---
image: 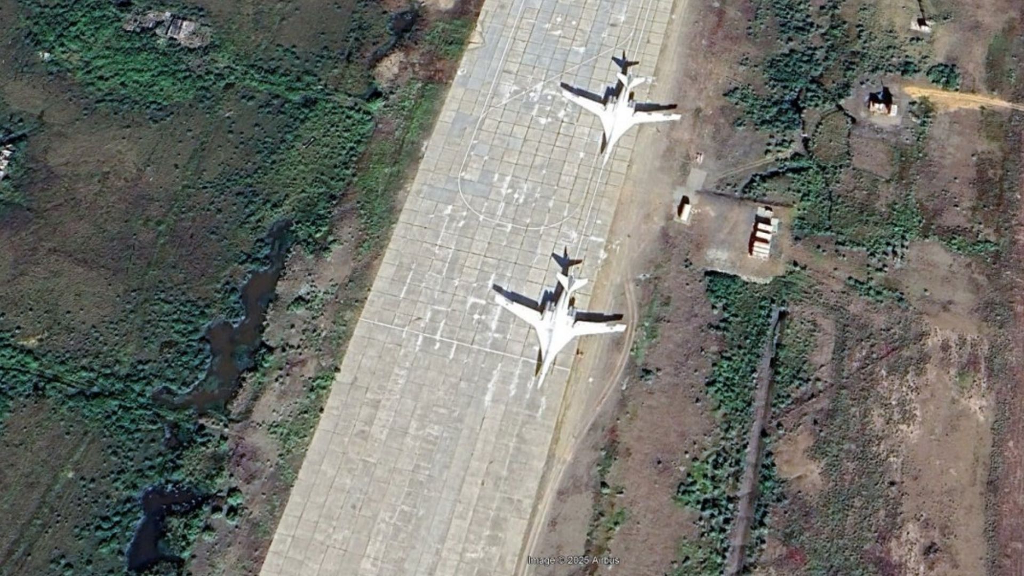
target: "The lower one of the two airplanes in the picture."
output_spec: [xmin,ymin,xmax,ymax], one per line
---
[495,268,627,390]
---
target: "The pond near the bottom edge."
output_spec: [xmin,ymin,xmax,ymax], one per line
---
[129,488,210,569]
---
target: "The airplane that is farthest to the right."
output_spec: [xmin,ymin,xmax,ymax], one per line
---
[564,66,682,163]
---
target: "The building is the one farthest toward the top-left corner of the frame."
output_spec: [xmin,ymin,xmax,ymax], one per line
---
[126,12,213,48]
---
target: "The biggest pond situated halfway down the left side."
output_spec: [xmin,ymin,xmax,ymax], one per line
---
[158,221,293,413]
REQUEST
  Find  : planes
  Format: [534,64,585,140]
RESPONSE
[564,66,682,163]
[495,268,627,390]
